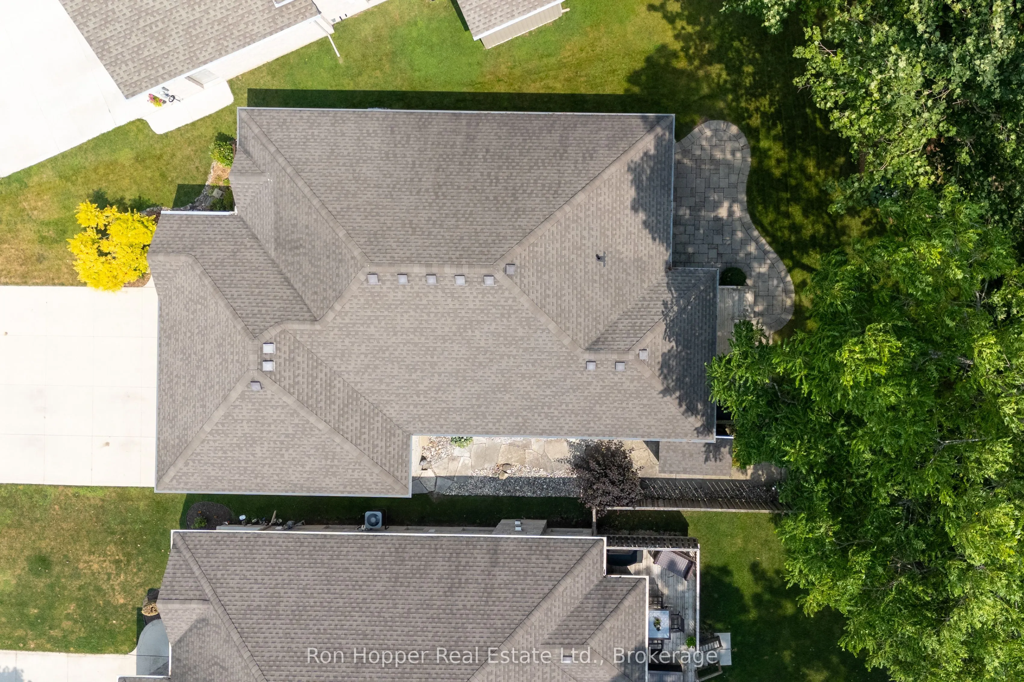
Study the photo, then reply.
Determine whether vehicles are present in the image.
No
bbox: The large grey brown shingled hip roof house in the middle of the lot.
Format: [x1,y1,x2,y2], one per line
[146,105,719,500]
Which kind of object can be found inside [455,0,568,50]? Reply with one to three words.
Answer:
shed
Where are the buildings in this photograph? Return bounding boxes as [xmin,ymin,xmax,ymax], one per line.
[115,517,651,682]
[455,0,568,50]
[146,105,719,500]
[60,0,389,102]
